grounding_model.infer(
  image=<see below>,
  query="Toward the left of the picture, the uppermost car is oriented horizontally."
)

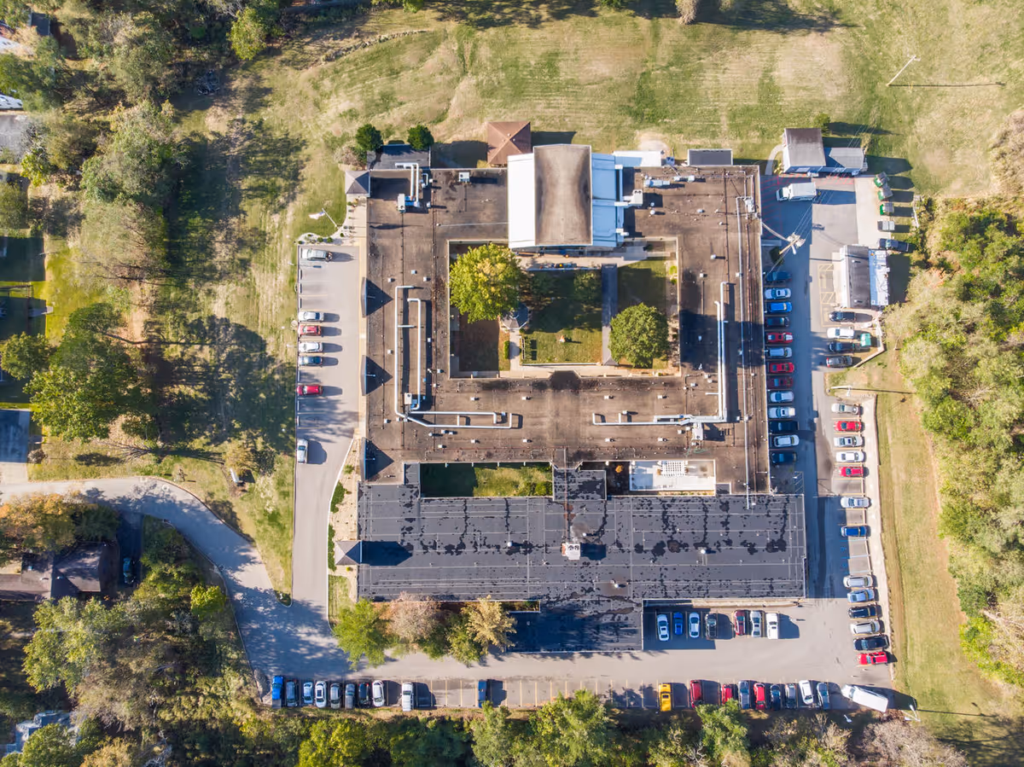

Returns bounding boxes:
[303,248,333,260]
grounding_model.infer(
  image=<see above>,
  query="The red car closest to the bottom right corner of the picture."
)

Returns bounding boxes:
[858,651,886,666]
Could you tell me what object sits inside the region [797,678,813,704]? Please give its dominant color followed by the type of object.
white car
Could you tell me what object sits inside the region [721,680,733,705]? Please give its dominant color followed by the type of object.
red vehicle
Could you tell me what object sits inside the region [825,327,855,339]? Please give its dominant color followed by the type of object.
white vehicle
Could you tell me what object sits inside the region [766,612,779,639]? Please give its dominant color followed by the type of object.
white vehicle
